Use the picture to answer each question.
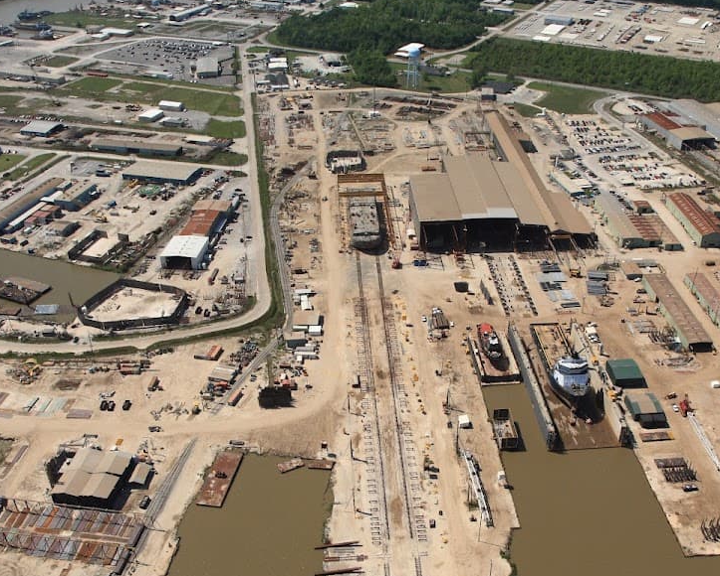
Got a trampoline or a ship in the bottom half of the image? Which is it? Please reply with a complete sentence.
What appears in the bottom half of the image is a ship.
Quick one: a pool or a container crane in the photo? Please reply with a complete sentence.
There is a container crane in the scene.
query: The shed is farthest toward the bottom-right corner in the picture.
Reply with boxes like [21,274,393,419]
[624,392,665,423]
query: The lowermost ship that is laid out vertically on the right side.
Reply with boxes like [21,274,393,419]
[494,406,517,452]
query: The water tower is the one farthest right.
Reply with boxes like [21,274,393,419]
[405,49,422,90]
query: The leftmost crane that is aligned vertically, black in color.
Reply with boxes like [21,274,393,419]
[257,324,292,405]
